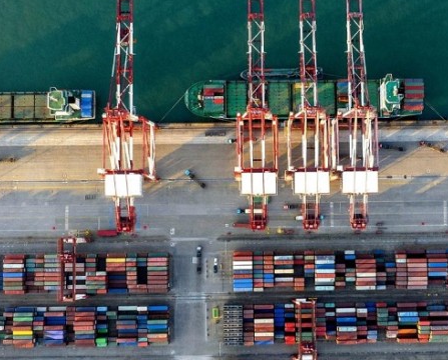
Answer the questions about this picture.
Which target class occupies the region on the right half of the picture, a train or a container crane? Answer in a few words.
container crane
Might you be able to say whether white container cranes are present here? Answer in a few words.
Yes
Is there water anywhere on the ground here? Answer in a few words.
Yes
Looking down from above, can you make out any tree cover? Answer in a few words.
No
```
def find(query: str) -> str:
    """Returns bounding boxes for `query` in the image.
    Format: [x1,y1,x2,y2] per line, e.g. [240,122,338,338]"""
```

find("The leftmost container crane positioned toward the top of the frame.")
[93,0,161,233]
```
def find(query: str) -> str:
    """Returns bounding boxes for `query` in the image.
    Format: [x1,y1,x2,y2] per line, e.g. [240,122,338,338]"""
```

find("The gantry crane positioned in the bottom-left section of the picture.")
[59,237,91,303]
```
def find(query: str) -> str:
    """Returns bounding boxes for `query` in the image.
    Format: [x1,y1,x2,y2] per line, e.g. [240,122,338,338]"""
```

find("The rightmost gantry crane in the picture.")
[325,0,379,231]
